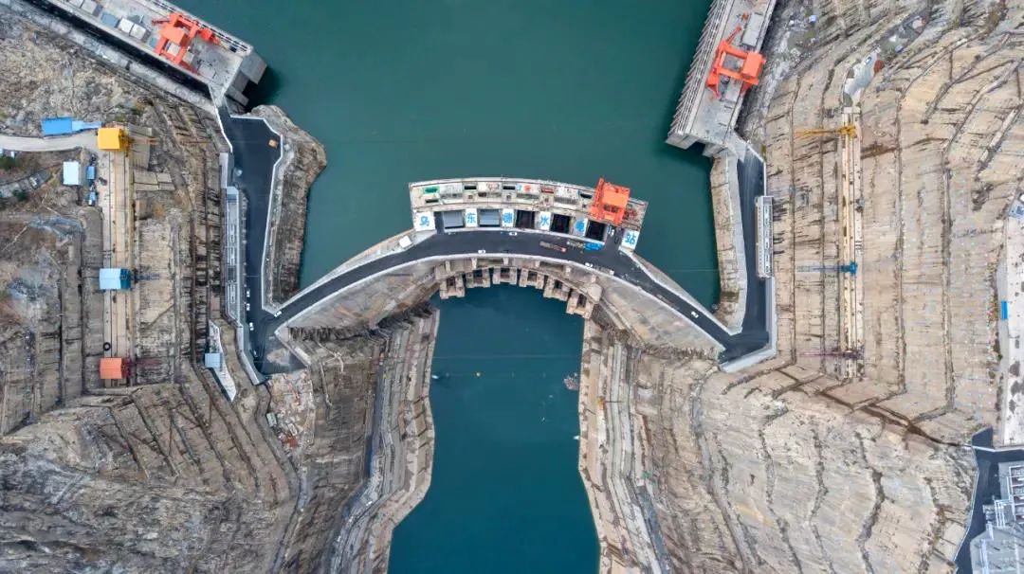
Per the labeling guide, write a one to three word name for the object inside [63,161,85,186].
shed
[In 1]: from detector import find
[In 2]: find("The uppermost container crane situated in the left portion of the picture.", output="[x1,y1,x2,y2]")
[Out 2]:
[150,13,228,79]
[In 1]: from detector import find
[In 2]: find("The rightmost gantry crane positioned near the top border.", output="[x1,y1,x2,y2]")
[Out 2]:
[700,26,763,97]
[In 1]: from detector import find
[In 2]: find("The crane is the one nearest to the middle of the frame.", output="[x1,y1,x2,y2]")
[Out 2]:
[588,178,631,227]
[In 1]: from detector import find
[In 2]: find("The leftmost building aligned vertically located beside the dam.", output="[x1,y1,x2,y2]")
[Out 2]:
[226,181,245,327]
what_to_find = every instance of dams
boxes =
[274,177,732,348]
